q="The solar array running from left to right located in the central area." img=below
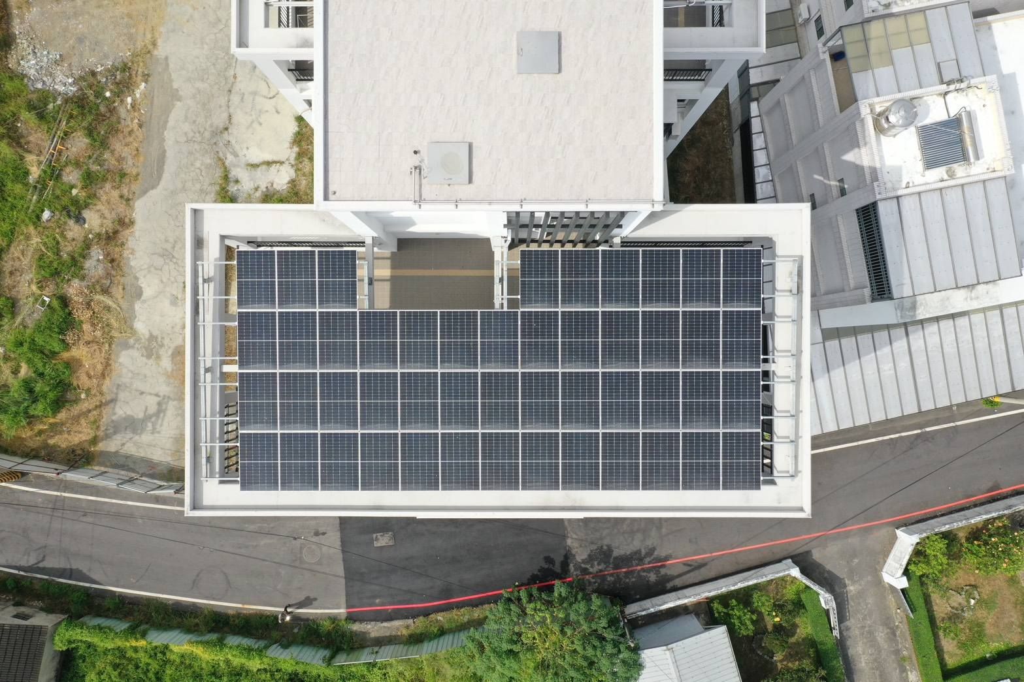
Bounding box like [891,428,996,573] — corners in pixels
[196,247,798,490]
